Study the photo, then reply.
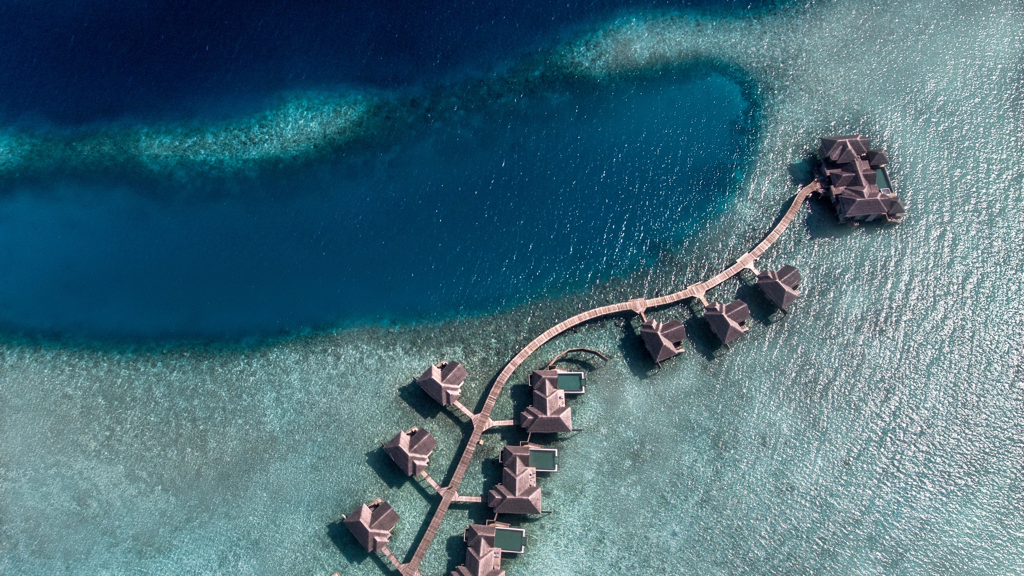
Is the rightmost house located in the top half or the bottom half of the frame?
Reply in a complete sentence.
You can find the rightmost house in the top half.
